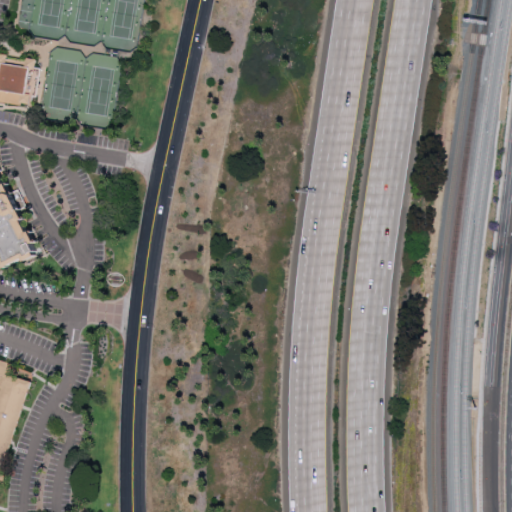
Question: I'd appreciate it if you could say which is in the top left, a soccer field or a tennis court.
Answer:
tennis court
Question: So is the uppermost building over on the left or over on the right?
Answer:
left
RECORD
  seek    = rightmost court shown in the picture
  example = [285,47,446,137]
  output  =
[102,0,144,51]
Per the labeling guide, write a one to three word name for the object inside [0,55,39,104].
building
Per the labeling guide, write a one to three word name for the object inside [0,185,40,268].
building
